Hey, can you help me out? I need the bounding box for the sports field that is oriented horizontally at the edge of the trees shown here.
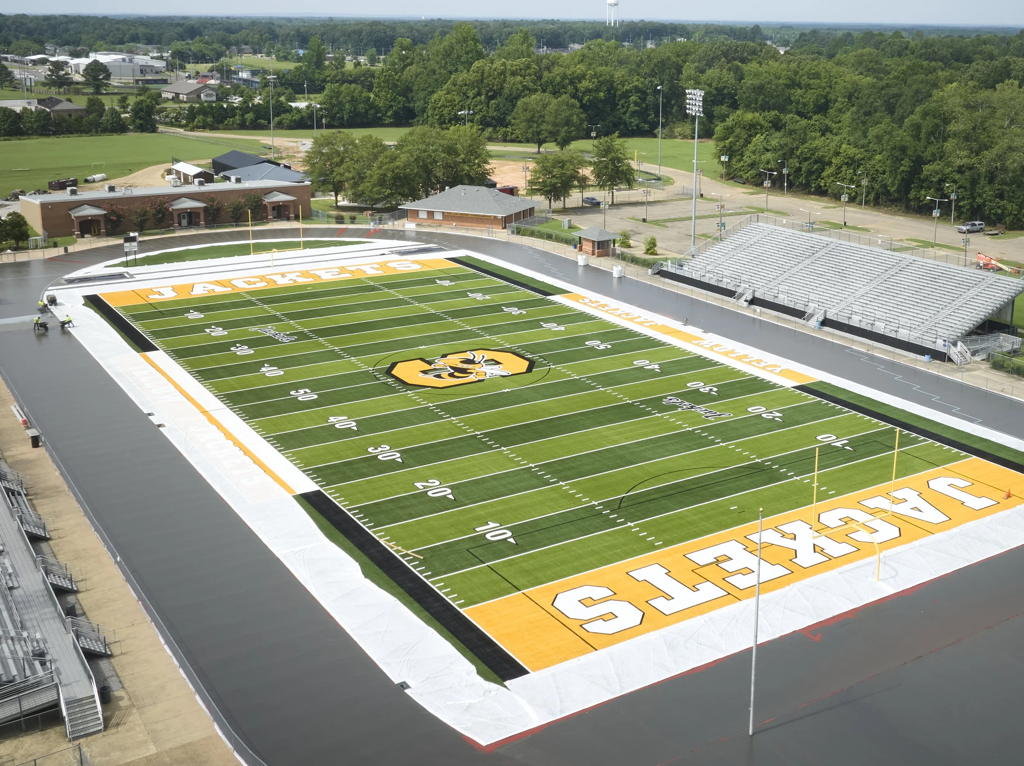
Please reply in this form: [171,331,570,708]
[83,253,1024,684]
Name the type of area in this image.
sports ground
